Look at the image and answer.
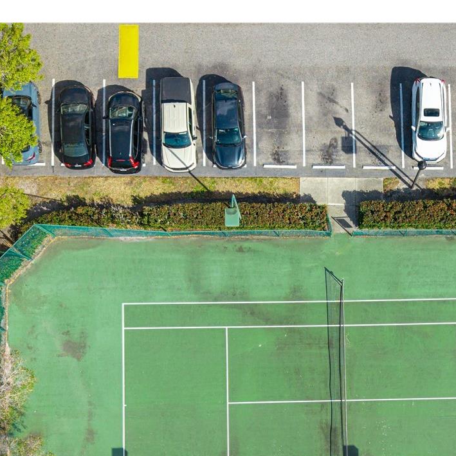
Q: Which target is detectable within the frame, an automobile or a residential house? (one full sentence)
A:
Of the two, only an automobile appears.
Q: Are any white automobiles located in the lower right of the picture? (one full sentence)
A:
No, I can find no white automobile in the lower right of the picture.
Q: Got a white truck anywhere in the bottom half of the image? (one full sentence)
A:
No, I see no white truck in the bottom half of the image.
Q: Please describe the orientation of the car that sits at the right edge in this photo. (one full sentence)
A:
The car that sits at the right edge has been laid out up and down relative to the frame.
